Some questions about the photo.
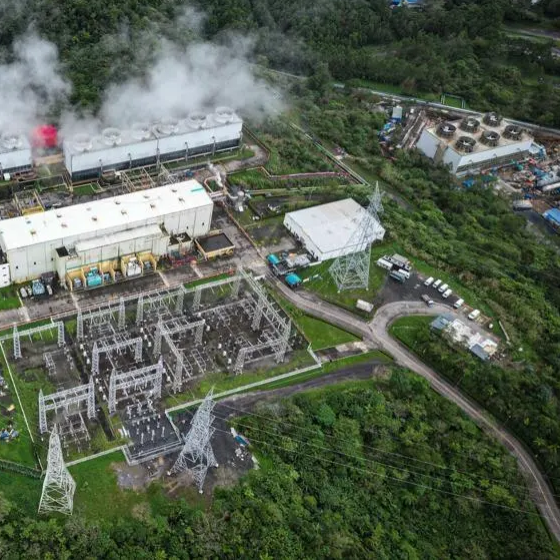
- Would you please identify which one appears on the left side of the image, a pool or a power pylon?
power pylon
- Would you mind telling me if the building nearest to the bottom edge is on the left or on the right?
right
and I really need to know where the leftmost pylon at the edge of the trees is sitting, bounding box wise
[38,424,76,518]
